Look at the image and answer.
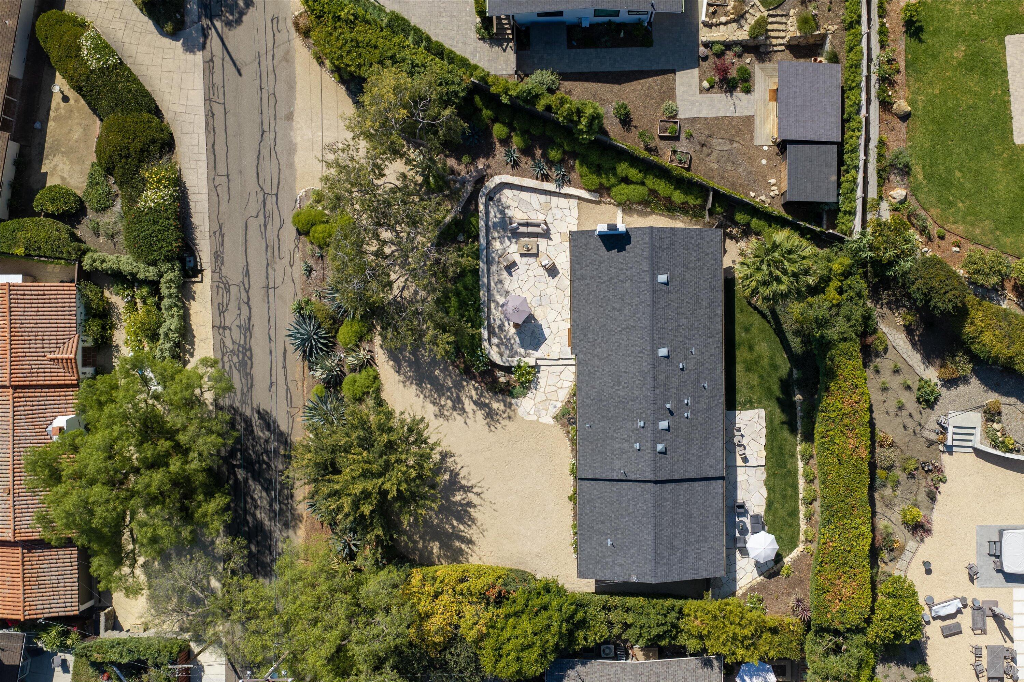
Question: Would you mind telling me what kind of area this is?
residential area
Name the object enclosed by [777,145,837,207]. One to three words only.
shed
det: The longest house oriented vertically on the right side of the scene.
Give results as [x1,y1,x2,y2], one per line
[568,222,726,585]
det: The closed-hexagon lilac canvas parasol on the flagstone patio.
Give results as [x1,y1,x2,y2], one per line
[500,293,531,325]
